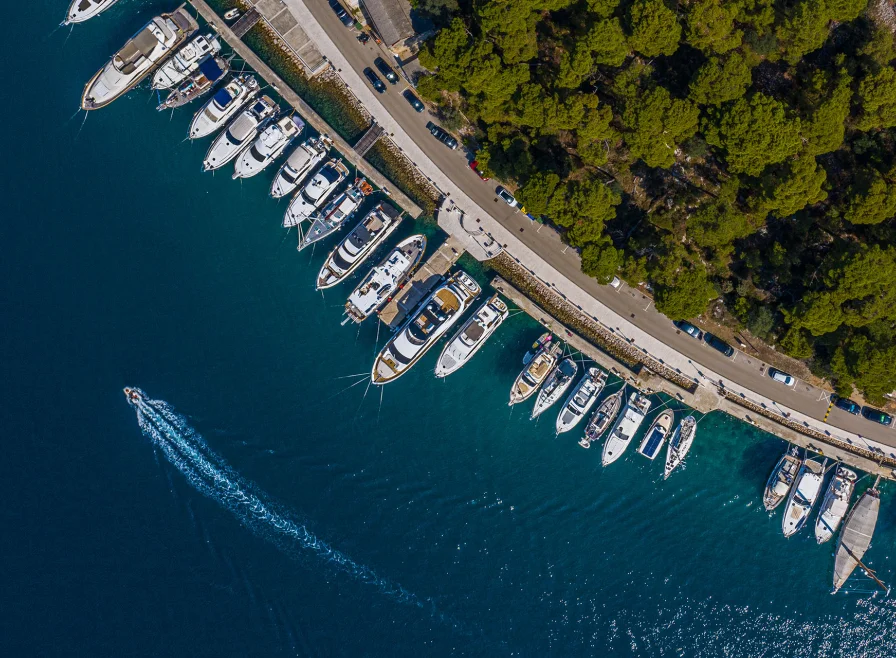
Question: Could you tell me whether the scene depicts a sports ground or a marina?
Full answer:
What you see here is a marina.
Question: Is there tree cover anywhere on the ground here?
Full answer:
Yes, the picture does contain tree cover.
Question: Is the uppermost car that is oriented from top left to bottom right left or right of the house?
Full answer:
It is on the left side of the house that the uppermost car that is oriented from top left to bottom right is positioned.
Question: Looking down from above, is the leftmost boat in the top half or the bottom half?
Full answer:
The leftmost boat sits in the top half of the picture.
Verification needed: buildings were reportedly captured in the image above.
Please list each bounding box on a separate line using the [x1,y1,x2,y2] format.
[360,0,415,49]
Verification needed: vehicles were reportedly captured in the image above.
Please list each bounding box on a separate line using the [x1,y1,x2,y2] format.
[832,396,859,412]
[862,406,890,424]
[365,68,387,94]
[769,368,794,385]
[429,122,456,149]
[497,187,520,209]
[704,334,732,355]
[376,59,399,85]
[358,35,369,40]
[403,90,425,114]
[676,319,701,340]
[330,0,353,24]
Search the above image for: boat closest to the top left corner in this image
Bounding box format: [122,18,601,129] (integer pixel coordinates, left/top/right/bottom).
[58,0,124,38]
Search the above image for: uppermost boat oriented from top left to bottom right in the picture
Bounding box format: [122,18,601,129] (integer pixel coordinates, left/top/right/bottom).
[245,74,258,88]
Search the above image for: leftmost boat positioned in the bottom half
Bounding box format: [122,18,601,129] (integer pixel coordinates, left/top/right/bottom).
[125,388,141,404]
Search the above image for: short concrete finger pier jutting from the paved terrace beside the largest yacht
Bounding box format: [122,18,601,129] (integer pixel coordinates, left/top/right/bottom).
[378,235,466,326]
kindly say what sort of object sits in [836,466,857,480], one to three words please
boat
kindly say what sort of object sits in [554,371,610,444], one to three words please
boat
